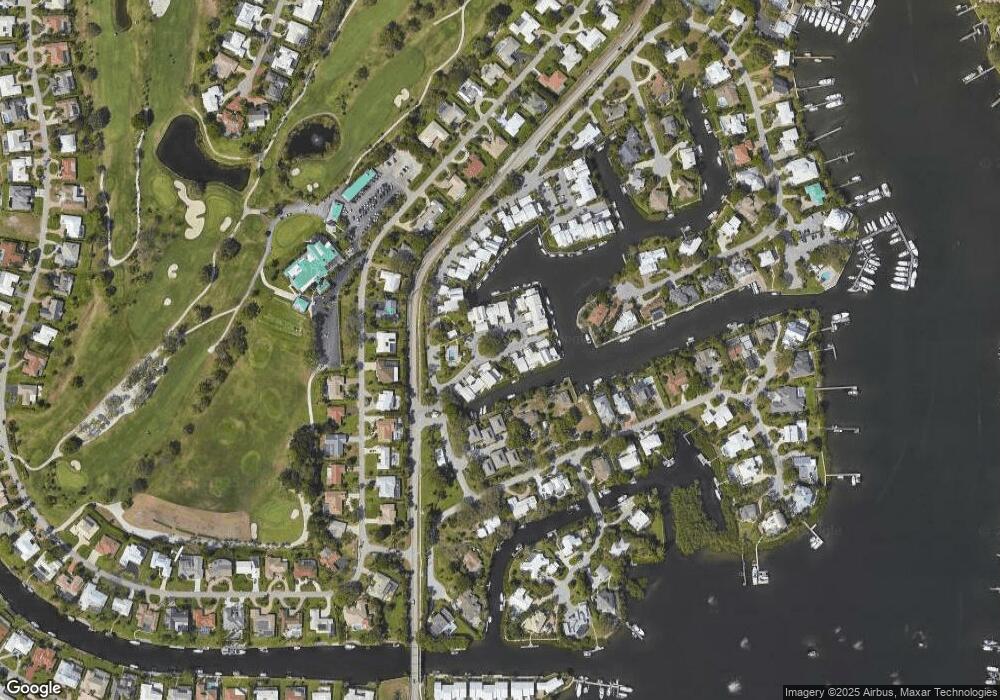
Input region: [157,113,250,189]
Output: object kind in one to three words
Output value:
pond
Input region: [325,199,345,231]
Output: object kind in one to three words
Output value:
building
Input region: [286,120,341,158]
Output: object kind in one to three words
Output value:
pond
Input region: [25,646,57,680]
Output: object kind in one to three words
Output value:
house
